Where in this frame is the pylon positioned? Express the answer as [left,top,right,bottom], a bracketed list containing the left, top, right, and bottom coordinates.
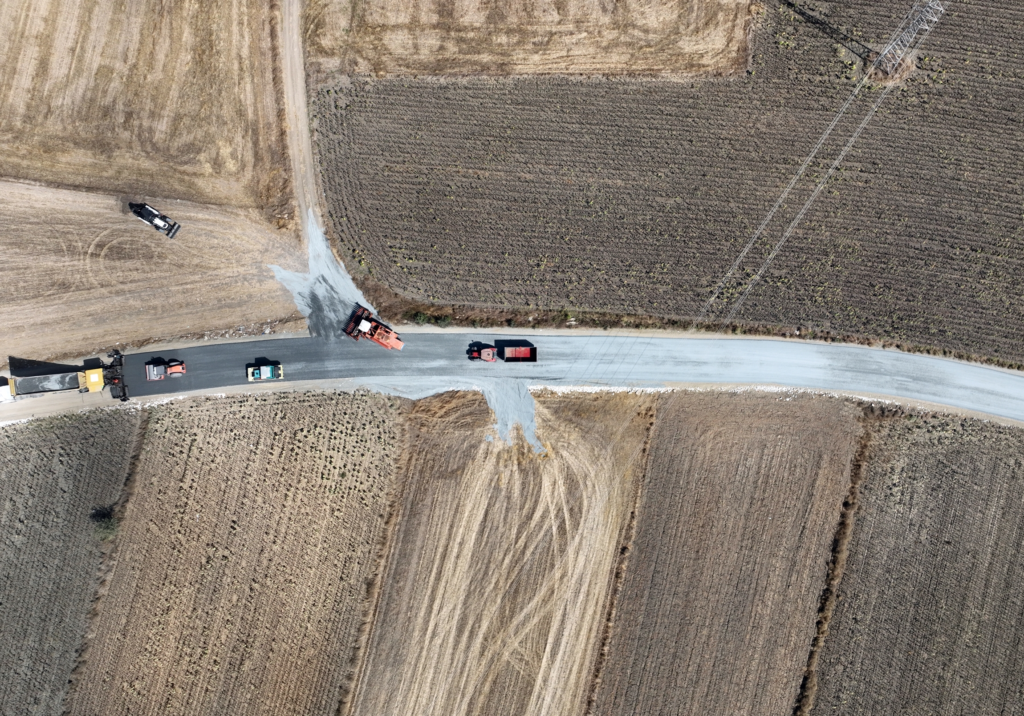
[874,0,942,74]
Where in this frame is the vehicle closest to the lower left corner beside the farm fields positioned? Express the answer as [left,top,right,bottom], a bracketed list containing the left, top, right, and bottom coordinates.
[0,372,89,404]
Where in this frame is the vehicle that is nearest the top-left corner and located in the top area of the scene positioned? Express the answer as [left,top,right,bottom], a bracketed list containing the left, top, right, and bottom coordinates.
[131,204,183,238]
